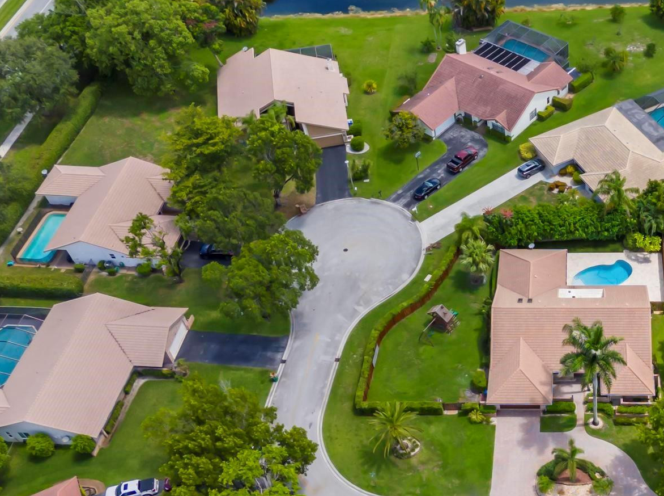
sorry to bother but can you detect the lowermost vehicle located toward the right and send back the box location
[414,180,441,200]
